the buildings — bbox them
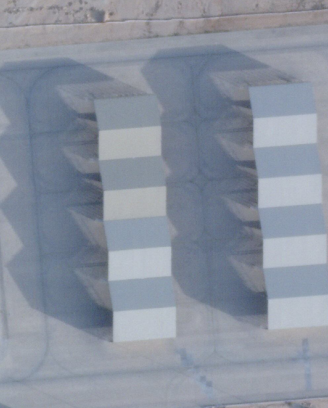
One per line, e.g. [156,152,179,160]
[88,95,175,342]
[243,83,328,330]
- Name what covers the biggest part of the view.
paved ground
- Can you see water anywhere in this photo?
No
